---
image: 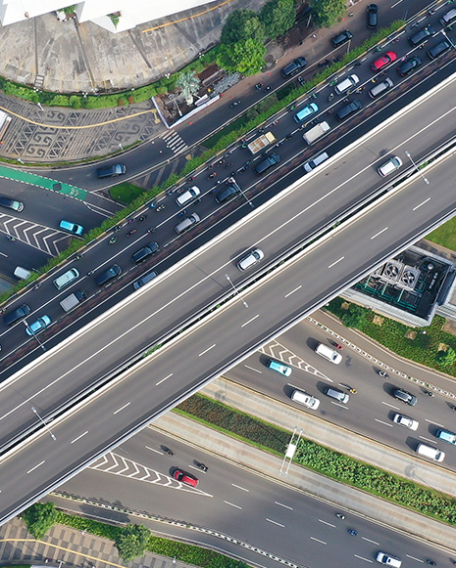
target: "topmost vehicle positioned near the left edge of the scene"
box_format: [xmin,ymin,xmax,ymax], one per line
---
[0,195,26,213]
